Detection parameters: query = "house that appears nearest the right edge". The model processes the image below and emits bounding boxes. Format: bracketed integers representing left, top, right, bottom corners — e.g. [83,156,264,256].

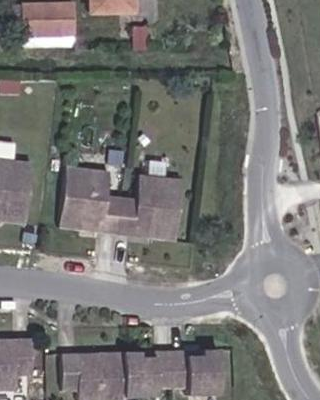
[190,348,230,396]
